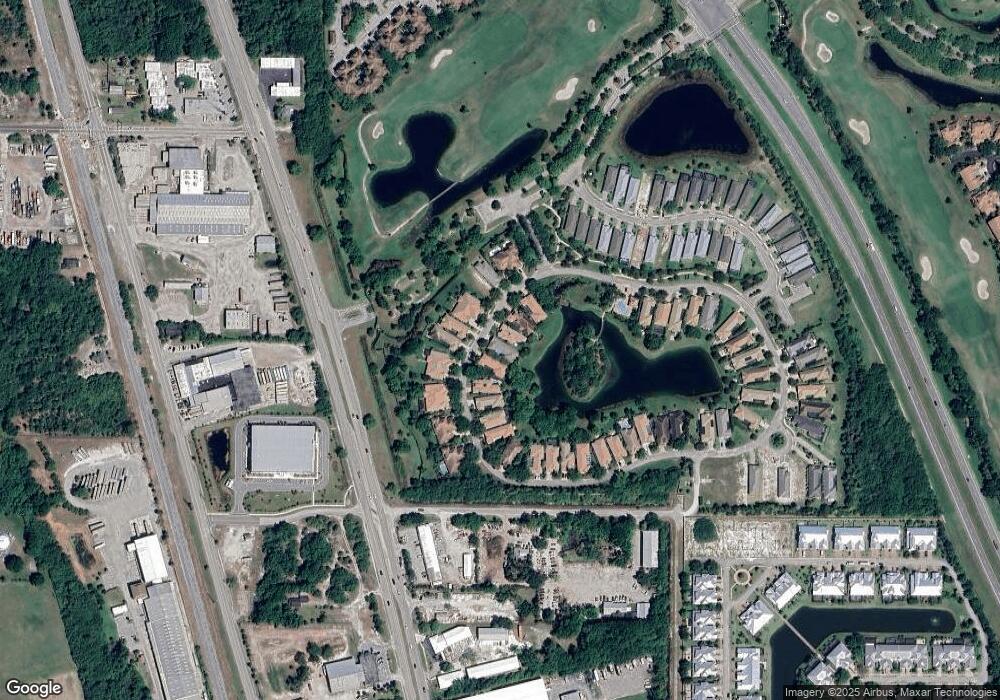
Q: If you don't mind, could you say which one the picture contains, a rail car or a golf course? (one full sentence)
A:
I can see a golf course in this picture.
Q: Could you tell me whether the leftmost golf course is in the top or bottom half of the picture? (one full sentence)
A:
The leftmost golf course sits in the top half of the picture.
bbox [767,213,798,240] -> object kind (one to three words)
house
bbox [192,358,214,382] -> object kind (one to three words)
building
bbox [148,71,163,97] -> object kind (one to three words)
building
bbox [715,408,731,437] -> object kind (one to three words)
house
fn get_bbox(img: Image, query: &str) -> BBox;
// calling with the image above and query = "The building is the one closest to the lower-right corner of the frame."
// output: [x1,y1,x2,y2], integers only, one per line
[933,640,977,670]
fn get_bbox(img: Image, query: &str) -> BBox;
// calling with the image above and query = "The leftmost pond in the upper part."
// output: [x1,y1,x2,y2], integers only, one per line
[369,110,549,217]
